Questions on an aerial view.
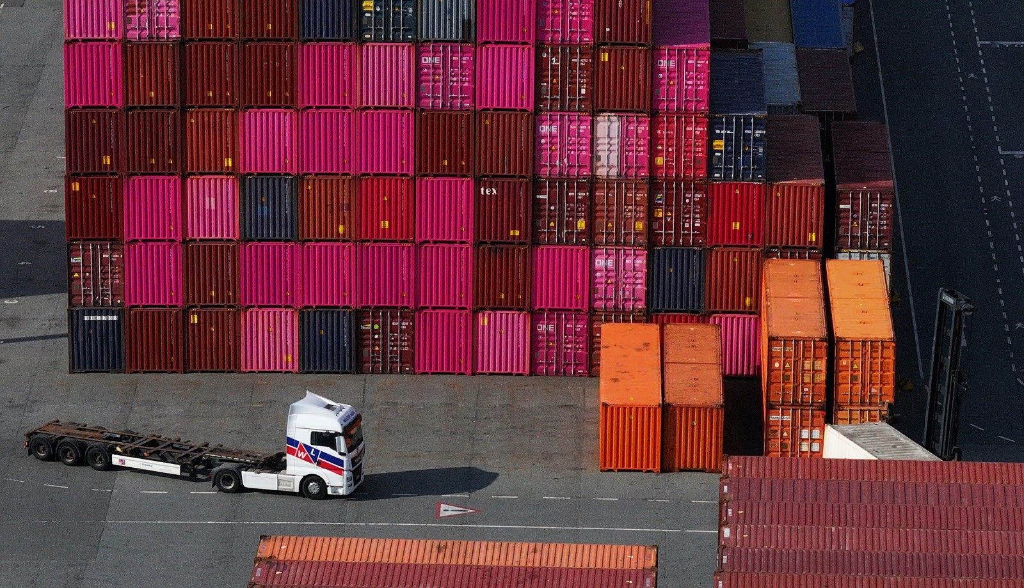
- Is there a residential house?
No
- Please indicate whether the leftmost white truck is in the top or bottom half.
bottom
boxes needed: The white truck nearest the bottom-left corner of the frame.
[209,390,364,502]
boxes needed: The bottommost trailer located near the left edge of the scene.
[23,419,286,481]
